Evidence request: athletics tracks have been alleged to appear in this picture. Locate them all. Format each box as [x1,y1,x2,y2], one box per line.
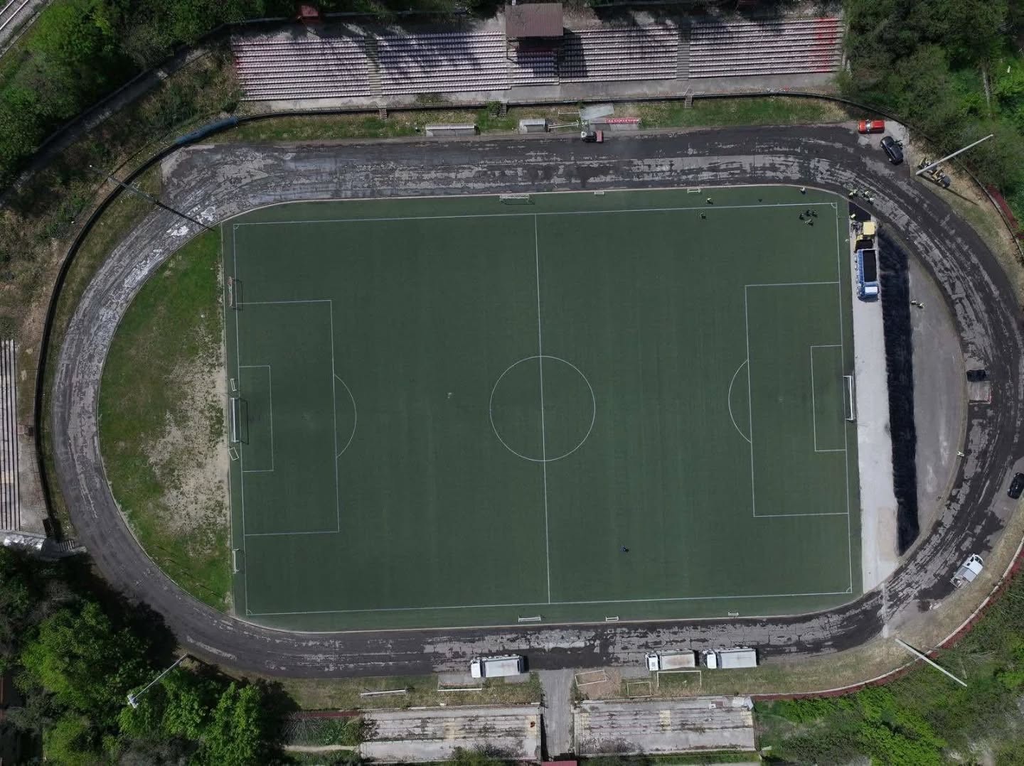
[52,119,1024,678]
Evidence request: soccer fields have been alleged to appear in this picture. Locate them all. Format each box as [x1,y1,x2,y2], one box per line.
[221,186,863,632]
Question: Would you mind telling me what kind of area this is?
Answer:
sports ground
